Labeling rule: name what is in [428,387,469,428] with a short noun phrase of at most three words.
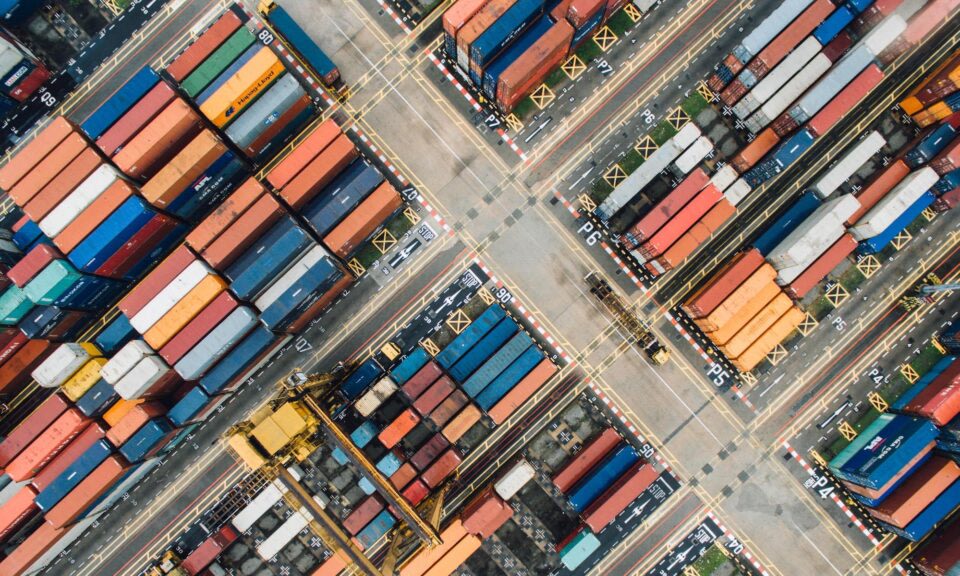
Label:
shipping container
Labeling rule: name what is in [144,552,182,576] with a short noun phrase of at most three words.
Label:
truck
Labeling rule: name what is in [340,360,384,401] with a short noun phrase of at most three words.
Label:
shipping container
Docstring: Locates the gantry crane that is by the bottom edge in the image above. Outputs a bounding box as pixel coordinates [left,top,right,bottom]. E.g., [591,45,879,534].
[213,361,453,576]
